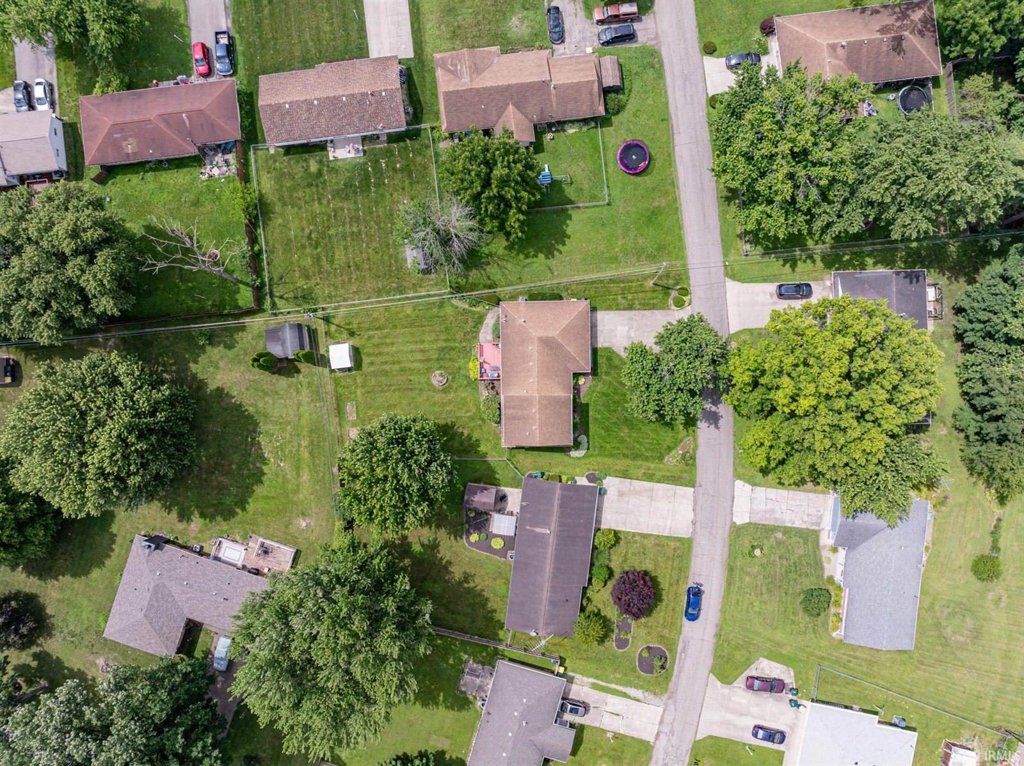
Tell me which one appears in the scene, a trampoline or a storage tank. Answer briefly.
trampoline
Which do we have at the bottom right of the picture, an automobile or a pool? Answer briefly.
automobile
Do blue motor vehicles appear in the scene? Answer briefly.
Yes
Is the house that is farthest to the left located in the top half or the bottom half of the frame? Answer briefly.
top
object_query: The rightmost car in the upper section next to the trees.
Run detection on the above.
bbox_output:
[775,283,813,300]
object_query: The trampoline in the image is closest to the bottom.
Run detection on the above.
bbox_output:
[616,140,650,174]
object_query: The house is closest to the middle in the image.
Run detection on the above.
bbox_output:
[500,300,591,447]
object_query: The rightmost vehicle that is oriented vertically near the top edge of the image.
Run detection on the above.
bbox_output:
[546,6,564,45]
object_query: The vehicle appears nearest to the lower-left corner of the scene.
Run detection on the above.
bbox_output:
[210,633,234,673]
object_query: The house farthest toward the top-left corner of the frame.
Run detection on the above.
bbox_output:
[0,109,71,192]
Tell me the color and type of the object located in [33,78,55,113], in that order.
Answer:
white car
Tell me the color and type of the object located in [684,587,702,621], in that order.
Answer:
blue car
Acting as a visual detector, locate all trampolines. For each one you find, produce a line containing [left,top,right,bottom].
[897,86,928,116]
[616,140,650,174]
